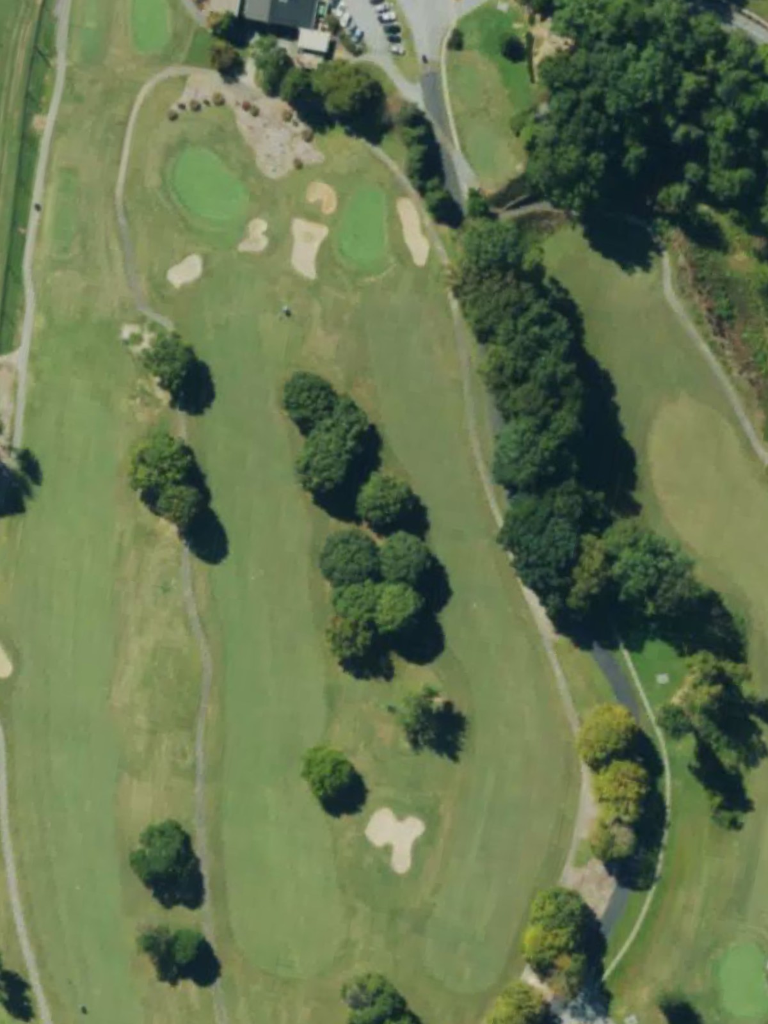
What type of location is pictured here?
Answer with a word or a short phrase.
golf course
